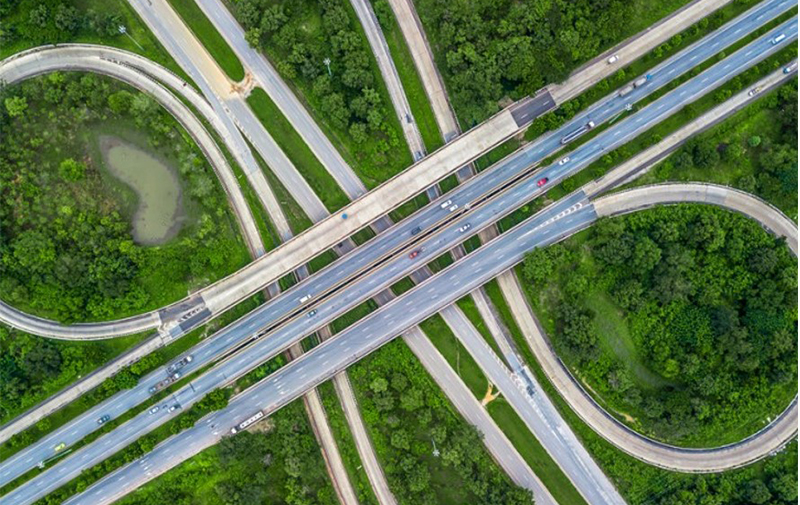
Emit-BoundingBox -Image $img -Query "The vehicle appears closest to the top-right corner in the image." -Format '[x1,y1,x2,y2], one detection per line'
[770,32,788,45]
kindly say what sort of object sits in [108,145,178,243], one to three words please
pond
